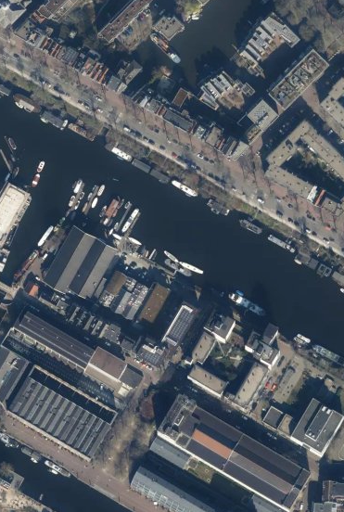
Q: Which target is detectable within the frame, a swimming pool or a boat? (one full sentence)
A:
The one in the frame is a boat.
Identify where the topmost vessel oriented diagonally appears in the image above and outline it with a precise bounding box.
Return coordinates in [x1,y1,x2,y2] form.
[155,39,183,65]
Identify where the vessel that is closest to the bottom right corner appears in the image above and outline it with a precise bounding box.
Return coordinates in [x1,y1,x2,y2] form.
[312,344,344,366]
